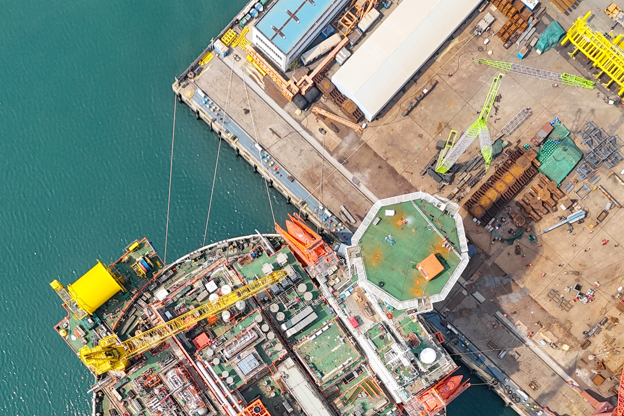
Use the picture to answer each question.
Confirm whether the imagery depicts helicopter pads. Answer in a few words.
Yes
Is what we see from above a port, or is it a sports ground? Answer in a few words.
port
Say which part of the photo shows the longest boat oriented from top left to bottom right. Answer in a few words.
center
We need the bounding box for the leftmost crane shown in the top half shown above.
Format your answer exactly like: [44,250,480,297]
[431,72,507,190]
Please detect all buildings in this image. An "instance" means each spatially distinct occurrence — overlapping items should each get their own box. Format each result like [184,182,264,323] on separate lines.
[251,0,353,73]
[336,0,488,123]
